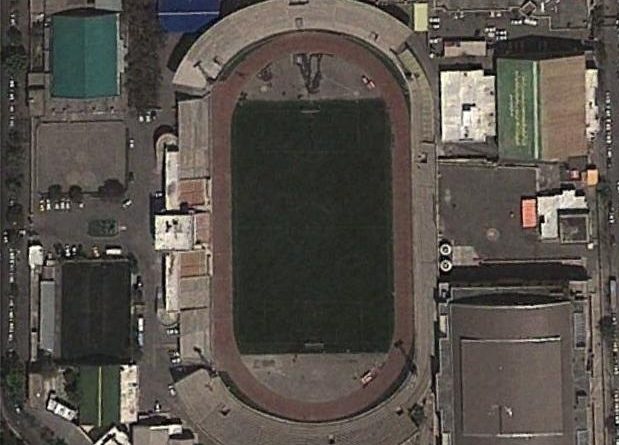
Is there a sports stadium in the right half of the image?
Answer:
Yes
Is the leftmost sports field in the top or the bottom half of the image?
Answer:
bottom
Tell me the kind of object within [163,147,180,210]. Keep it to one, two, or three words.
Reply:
building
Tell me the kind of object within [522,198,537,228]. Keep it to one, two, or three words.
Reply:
shed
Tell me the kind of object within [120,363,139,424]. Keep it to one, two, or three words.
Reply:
house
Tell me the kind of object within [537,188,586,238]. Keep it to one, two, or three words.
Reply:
house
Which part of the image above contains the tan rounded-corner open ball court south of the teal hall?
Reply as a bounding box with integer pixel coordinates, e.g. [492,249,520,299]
[36,120,129,194]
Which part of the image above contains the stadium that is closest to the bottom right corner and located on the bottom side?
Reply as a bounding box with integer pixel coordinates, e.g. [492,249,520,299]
[450,279,574,445]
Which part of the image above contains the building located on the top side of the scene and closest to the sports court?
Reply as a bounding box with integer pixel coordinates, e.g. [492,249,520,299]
[29,88,45,116]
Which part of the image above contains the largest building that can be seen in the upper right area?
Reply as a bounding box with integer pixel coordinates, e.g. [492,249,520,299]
[497,51,587,163]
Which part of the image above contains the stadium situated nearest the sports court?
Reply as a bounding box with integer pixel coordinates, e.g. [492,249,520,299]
[173,0,438,445]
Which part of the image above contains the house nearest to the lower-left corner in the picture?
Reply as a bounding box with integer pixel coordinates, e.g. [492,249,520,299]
[47,393,77,421]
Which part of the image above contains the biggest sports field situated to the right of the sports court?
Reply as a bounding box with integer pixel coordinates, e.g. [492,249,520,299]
[232,100,392,353]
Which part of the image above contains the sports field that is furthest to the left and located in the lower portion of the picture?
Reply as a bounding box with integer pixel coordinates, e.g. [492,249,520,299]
[54,257,134,364]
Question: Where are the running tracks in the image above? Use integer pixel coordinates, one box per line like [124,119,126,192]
[212,33,413,423]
